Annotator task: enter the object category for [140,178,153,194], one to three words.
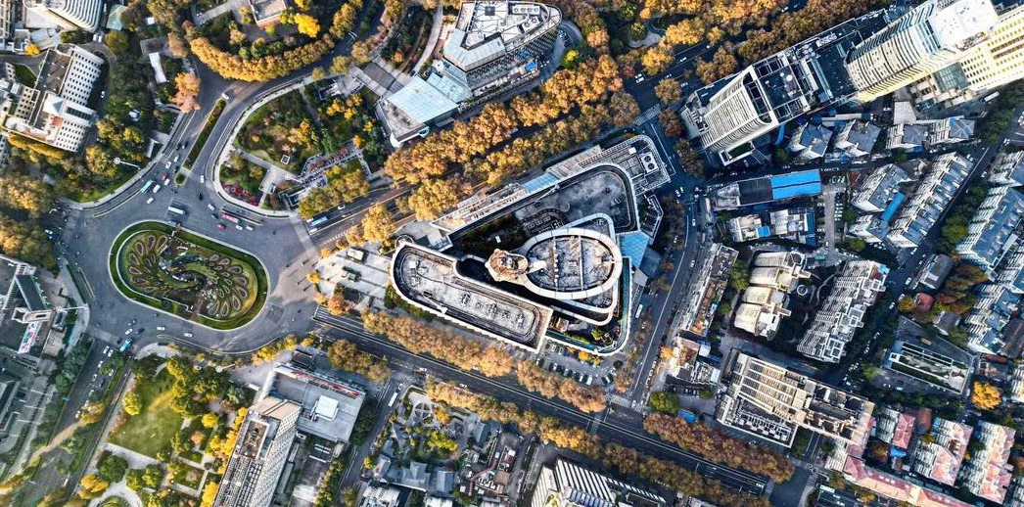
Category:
vehicle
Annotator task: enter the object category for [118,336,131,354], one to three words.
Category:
vehicle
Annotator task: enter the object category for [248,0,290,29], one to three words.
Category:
building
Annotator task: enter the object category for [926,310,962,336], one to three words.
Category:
house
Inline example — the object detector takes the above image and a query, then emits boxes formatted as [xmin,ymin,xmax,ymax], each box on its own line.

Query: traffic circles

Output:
[108,220,270,330]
